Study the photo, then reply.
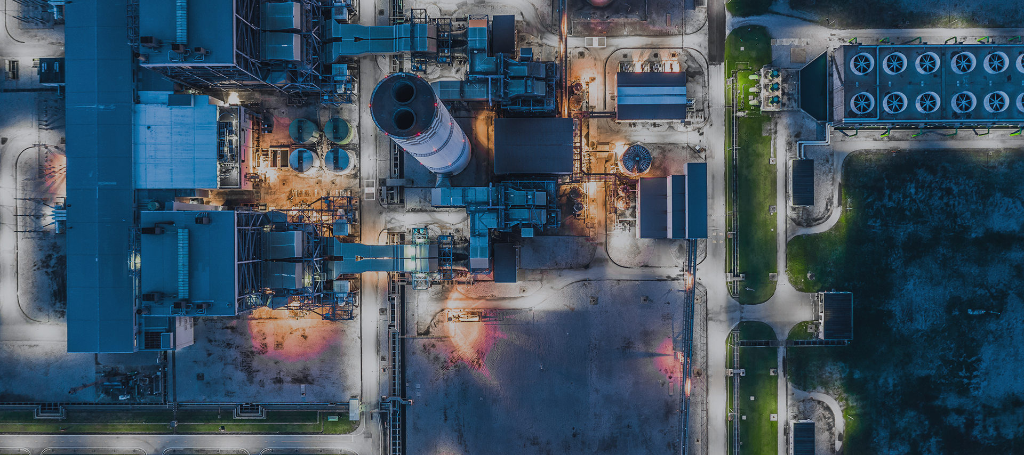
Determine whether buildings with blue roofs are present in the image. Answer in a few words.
Yes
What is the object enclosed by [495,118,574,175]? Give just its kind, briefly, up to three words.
shed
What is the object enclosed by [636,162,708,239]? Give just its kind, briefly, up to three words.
building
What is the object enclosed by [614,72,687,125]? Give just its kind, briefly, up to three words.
building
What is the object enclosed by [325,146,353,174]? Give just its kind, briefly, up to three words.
water tank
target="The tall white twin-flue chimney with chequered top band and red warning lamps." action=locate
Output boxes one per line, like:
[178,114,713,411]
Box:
[367,70,471,188]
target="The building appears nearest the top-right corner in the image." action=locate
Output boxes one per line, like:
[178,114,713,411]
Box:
[758,68,801,112]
